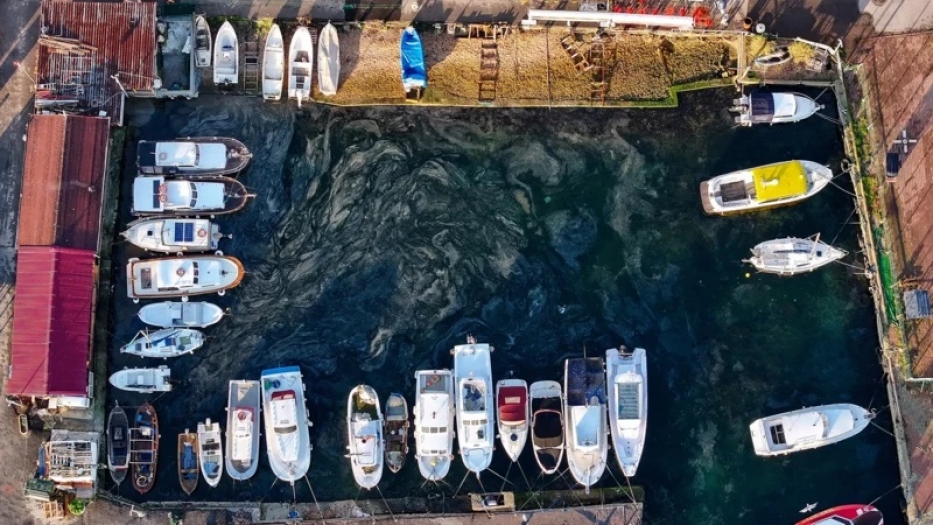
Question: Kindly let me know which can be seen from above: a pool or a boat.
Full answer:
I can see a boat in this picture.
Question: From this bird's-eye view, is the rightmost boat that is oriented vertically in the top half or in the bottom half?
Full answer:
Seen from above, the rightmost boat that is oriented vertically lies in the bottom half of the view.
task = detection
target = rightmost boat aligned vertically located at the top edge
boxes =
[399,24,427,96]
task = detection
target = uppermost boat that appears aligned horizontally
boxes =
[754,49,795,68]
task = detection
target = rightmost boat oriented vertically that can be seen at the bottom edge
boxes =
[605,342,649,502]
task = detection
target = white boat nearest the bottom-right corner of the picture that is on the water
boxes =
[743,379,891,460]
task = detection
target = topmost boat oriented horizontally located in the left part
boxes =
[138,136,256,177]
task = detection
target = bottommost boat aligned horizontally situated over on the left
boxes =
[105,365,181,403]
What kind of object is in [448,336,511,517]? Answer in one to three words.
boat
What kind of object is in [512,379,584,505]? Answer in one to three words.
boat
